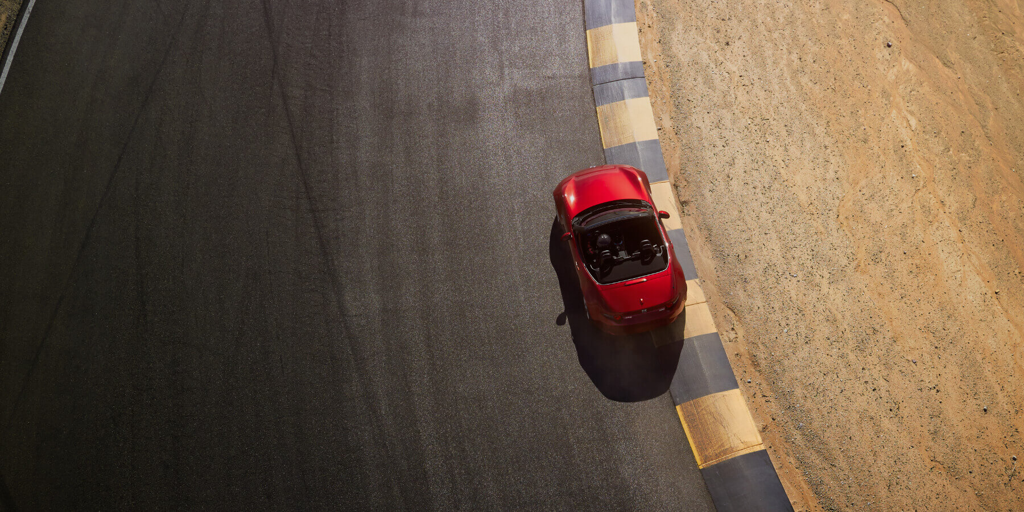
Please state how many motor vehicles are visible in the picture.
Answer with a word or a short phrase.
1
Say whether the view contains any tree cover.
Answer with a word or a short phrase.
No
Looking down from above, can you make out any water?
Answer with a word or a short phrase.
No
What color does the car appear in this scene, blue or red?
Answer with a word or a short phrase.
red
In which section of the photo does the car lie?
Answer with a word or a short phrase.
center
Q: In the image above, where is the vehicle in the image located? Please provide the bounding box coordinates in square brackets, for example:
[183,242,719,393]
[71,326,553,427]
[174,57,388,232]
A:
[554,164,687,340]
